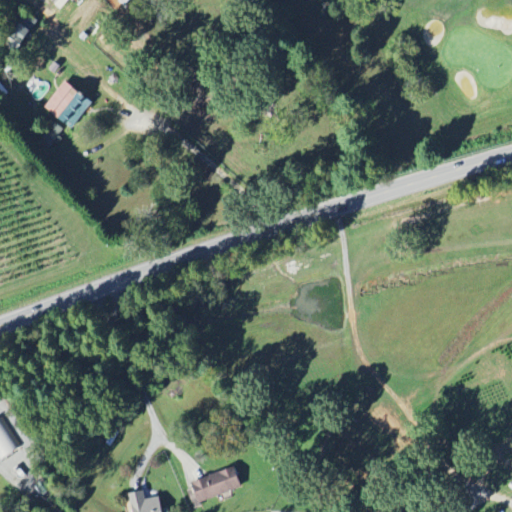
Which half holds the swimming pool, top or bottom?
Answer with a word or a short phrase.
top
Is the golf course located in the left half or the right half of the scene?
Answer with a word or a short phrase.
right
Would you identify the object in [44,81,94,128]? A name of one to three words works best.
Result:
house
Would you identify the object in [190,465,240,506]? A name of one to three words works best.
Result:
house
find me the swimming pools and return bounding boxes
[27,76,50,101]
